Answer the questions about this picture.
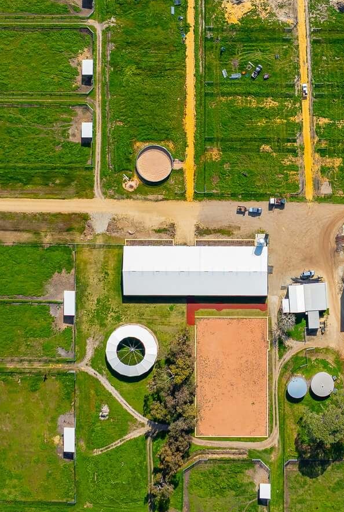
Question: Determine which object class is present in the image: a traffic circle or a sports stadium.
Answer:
sports stadium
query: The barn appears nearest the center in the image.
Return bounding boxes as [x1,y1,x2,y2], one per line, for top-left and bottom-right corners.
[122,246,267,297]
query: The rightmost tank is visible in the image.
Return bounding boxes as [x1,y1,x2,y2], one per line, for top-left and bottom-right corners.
[310,372,334,396]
